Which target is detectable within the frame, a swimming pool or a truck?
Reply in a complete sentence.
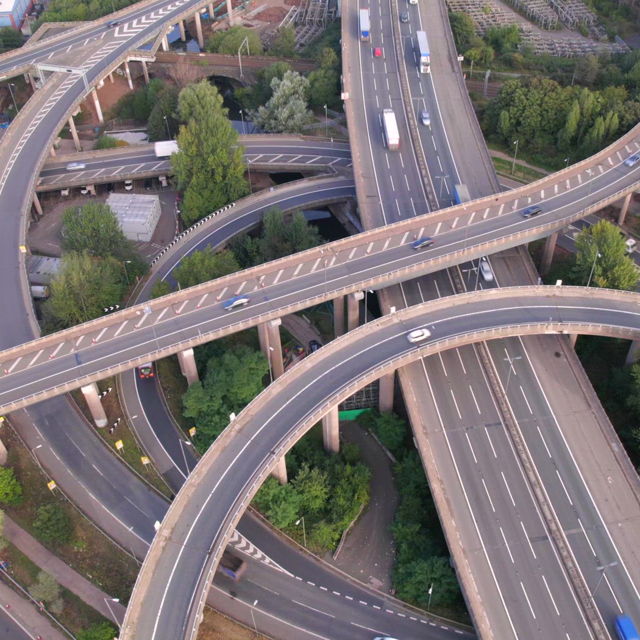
The one in the frame is a truck.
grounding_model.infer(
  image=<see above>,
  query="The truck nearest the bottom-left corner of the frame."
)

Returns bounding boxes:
[216,551,255,585]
